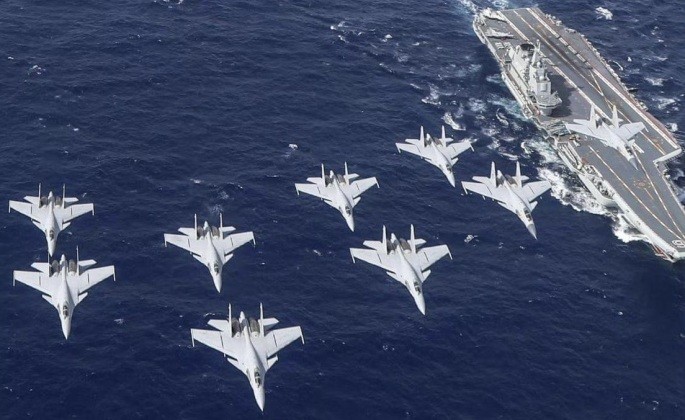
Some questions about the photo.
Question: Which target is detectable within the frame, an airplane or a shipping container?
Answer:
airplane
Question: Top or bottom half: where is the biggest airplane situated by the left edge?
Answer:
bottom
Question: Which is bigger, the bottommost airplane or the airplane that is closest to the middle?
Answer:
the bottommost airplane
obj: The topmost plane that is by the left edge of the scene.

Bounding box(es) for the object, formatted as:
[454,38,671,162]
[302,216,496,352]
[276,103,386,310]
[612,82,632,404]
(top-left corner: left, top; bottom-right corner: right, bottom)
[8,182,94,255]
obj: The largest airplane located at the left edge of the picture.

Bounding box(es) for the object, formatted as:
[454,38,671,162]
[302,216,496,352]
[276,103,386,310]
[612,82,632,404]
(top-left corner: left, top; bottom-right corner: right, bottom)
[13,245,115,339]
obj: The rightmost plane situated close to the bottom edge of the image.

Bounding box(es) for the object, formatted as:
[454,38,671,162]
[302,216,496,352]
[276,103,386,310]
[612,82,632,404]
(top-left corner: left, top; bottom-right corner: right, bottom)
[190,300,304,411]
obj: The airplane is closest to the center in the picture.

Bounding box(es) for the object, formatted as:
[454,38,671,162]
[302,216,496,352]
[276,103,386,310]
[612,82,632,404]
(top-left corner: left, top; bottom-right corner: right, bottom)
[295,160,379,231]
